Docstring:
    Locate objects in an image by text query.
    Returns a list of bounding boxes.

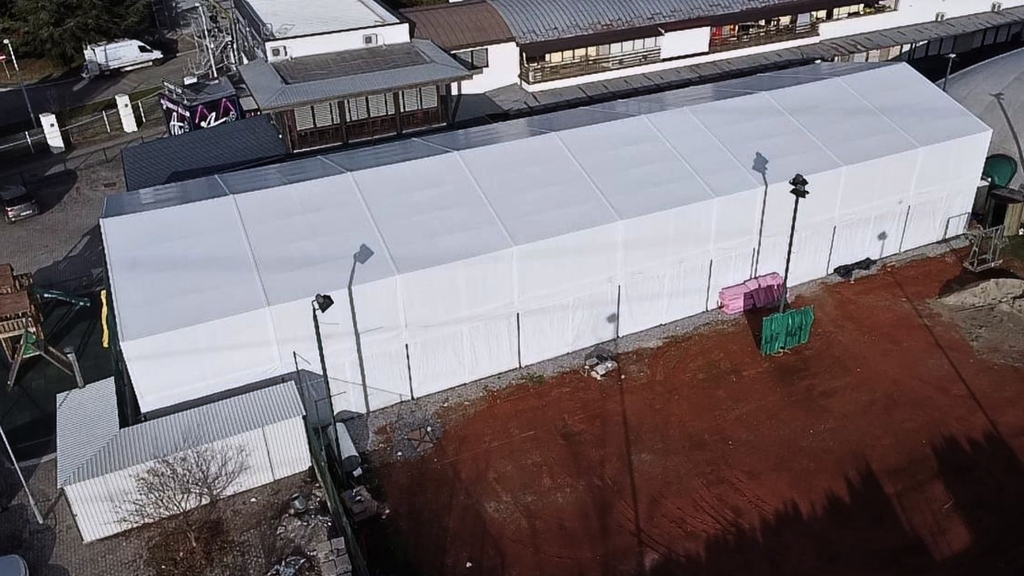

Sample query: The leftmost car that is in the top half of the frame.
[0,176,38,216]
